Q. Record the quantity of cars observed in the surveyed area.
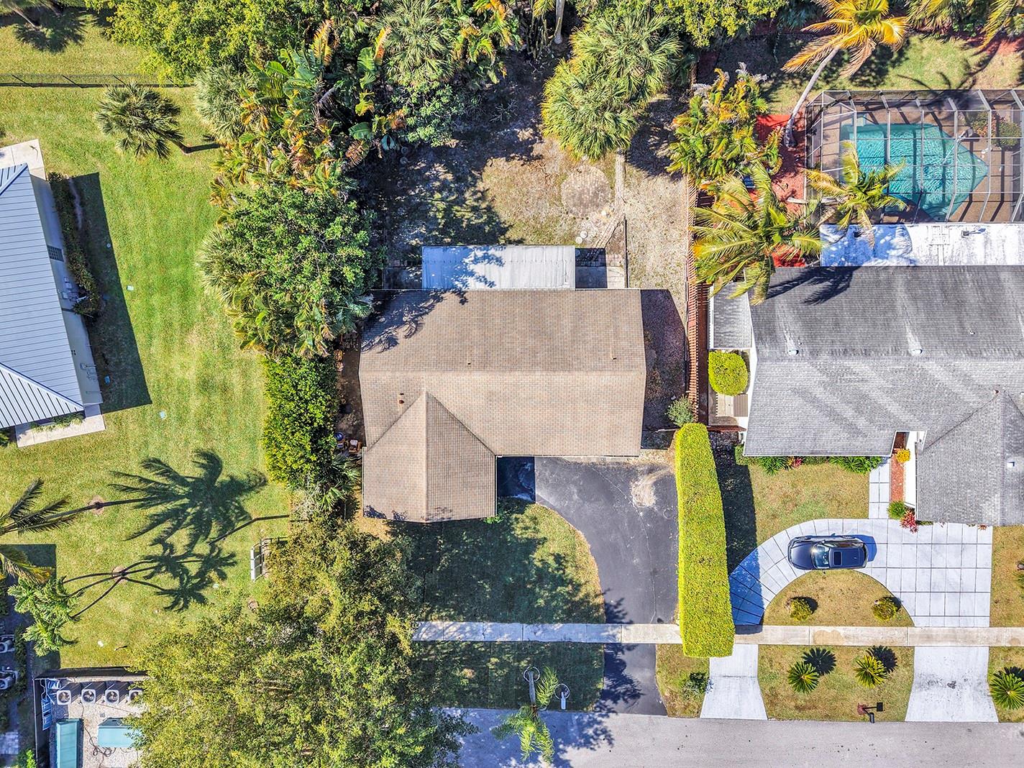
1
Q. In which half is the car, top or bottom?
bottom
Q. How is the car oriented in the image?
from side to side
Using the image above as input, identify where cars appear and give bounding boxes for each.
[788,536,868,572]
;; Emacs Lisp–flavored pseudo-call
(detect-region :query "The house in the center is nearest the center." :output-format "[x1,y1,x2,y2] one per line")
[359,289,645,521]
